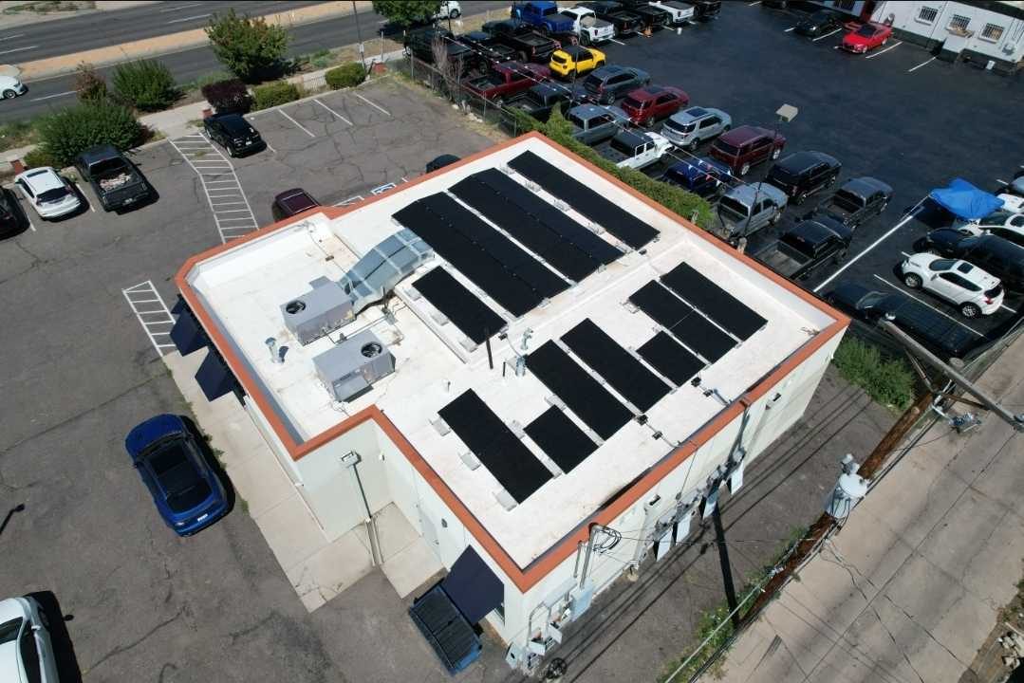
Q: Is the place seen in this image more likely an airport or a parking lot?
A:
parking lot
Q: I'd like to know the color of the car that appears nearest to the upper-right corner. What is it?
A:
red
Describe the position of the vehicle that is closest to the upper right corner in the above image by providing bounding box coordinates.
[834,26,891,57]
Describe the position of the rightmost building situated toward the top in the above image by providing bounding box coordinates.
[849,0,1024,79]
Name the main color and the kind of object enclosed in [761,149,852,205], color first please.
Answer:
black car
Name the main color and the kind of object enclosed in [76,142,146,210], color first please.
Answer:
black truck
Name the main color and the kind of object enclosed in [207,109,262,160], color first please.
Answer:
black car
